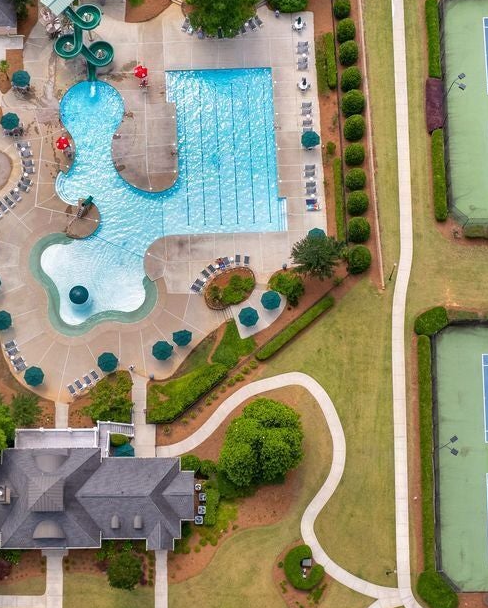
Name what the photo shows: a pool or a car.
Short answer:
pool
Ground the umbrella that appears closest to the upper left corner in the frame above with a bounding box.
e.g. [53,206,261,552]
[12,68,32,87]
